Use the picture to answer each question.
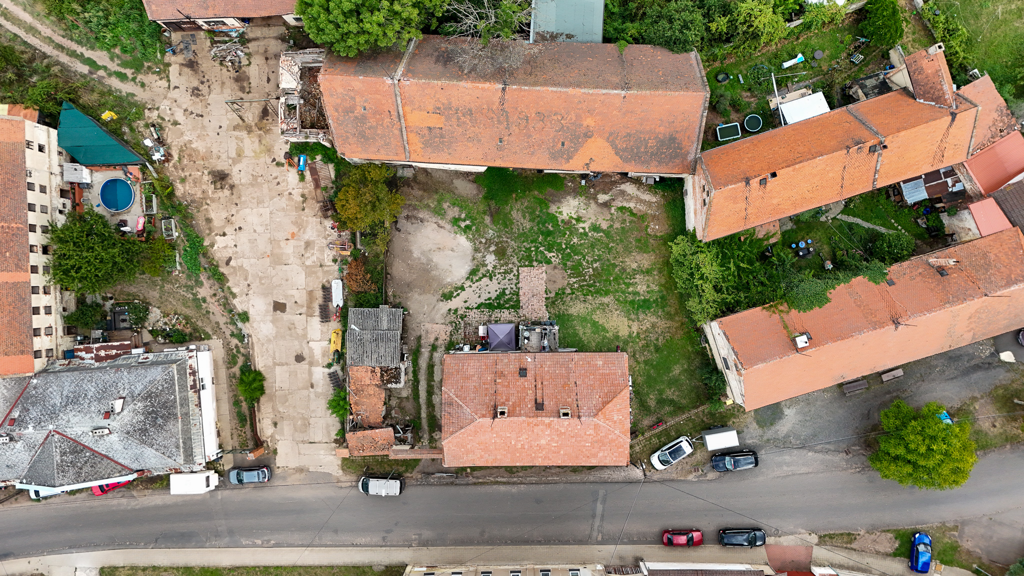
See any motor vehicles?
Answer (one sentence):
Yes, looking at the shot, I can spot a motor vehicle.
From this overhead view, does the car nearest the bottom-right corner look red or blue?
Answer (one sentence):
In this view, the car nearest the bottom-right corner is blue.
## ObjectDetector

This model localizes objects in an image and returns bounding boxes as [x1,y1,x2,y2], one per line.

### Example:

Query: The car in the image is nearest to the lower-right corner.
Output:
[911,532,937,576]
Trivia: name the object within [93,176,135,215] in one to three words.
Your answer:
swimming pool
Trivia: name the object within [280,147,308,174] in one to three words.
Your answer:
work vehicle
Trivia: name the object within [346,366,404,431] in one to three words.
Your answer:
shed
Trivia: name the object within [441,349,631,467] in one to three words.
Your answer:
house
